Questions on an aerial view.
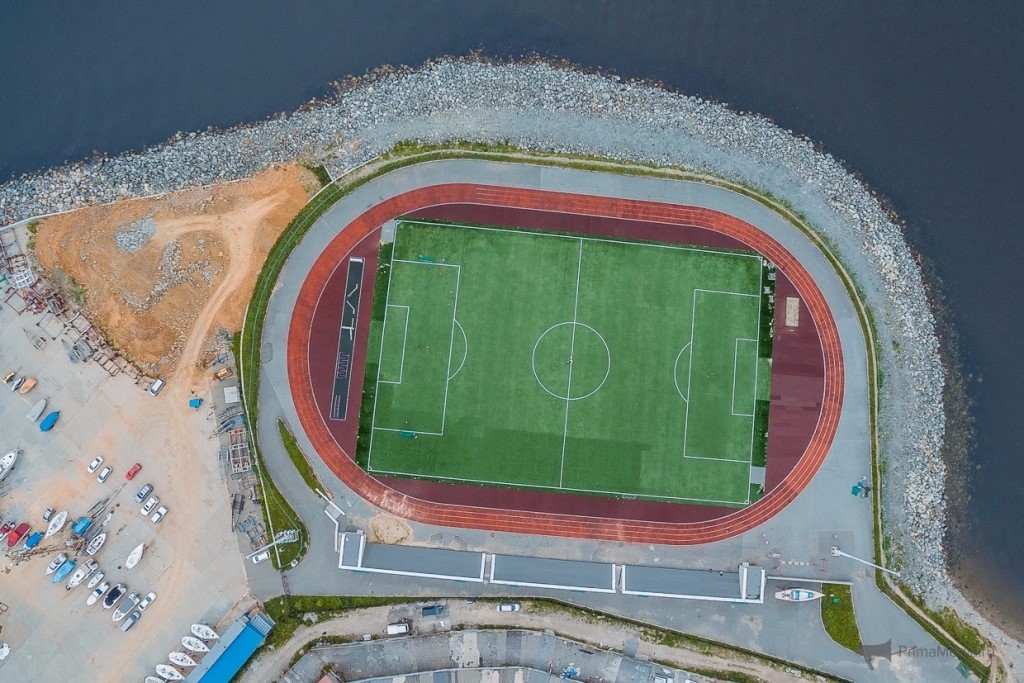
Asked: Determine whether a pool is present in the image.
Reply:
No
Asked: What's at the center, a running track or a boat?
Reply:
running track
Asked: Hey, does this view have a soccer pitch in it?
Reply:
Yes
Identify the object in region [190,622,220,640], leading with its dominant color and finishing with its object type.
white boat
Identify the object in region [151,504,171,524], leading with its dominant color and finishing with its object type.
white car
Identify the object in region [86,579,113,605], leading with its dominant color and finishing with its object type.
white boat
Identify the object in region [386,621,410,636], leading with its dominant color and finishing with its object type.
white vehicle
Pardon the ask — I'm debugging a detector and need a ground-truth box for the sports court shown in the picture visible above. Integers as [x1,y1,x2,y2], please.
[330,258,365,420]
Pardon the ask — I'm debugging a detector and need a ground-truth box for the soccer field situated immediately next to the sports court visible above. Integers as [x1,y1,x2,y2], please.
[355,217,776,509]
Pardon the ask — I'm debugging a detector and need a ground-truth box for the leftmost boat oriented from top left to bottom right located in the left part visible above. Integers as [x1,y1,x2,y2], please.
[62,340,80,362]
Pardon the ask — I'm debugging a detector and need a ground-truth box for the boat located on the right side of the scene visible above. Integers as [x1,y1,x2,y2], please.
[774,588,826,602]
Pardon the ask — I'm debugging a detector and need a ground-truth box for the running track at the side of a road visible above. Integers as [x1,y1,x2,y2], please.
[287,183,844,546]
